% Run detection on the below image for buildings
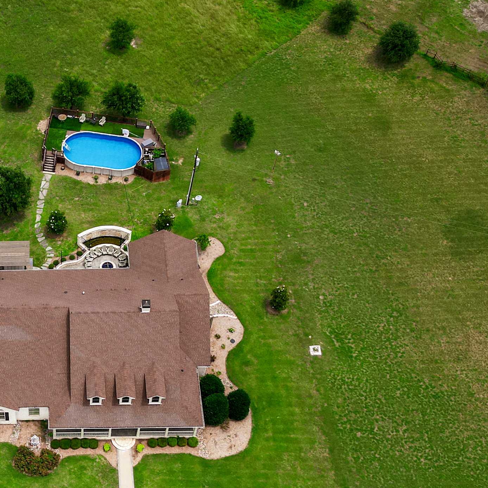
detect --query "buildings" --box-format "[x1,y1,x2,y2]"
[0,229,212,451]
[155,159,169,174]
